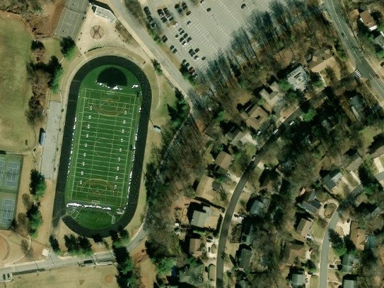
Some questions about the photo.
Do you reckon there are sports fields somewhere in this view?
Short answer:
Yes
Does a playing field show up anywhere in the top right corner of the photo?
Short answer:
No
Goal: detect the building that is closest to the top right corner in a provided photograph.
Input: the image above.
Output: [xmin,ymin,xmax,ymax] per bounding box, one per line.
[357,7,380,32]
